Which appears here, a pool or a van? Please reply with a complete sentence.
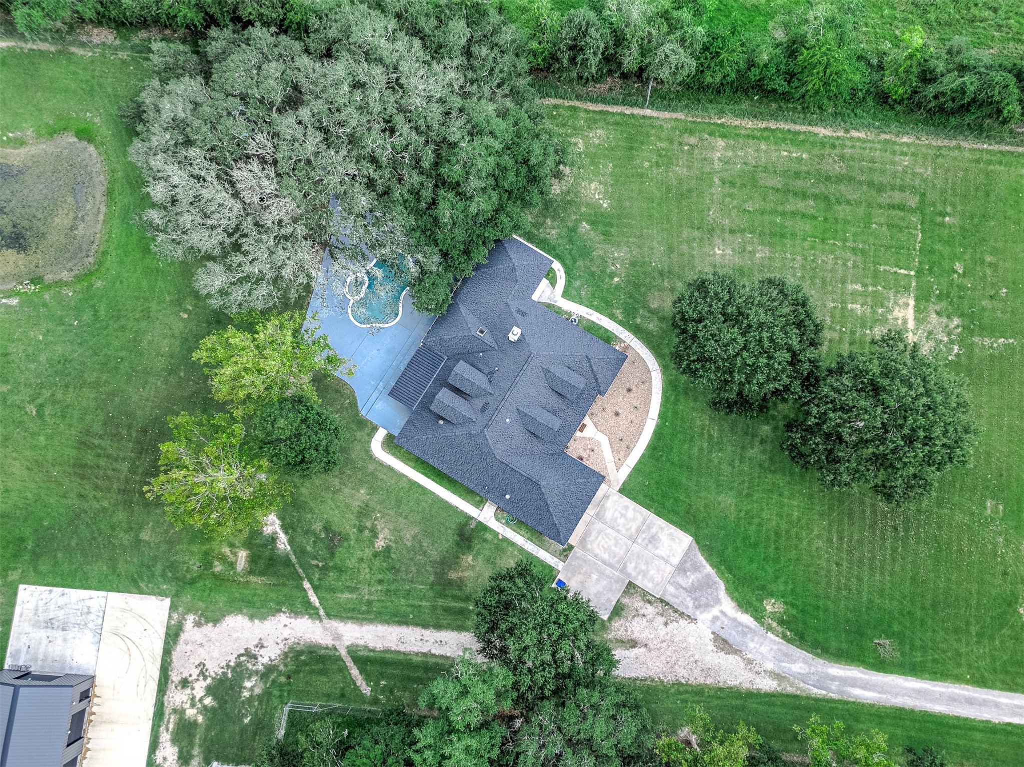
It is a pool that can be seen here.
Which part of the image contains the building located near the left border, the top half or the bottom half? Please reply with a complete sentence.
The bottom half of the photo is where the building located near the left border is.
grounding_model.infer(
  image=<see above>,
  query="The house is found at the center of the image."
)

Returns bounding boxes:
[387,237,630,548]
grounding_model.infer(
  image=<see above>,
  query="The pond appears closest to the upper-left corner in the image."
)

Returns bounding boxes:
[0,130,110,296]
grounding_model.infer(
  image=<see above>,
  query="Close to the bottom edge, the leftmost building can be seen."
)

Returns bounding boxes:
[0,663,95,767]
